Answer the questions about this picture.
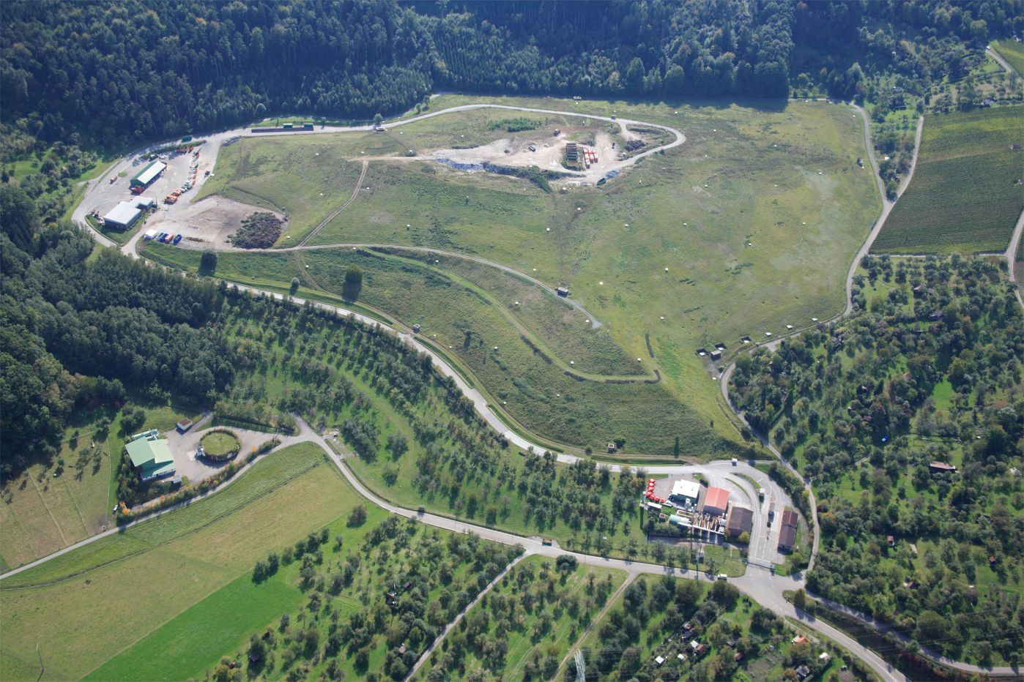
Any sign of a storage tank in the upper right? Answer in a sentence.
No, the scene shows no storage tank in the upper right.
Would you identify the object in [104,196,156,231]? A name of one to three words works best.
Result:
building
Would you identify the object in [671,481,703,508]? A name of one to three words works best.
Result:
building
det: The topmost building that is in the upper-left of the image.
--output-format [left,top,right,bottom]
[125,161,167,190]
